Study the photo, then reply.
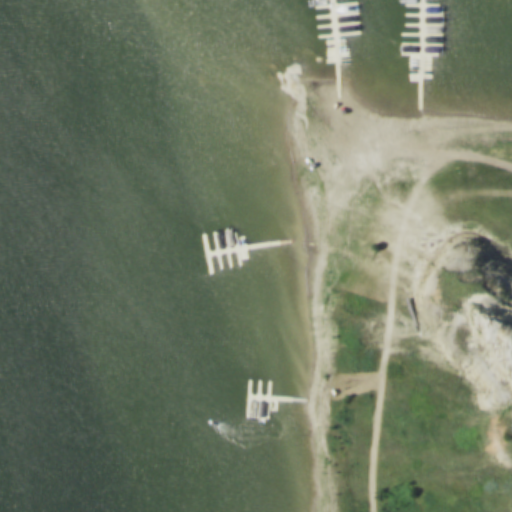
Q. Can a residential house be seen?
No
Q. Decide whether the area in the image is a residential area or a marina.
marina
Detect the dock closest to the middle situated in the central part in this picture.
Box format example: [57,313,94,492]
[202,228,293,274]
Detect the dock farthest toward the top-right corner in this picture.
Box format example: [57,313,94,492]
[400,0,445,112]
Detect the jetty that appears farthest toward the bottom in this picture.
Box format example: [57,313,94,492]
[246,379,310,424]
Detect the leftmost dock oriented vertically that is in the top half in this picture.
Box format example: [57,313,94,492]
[314,0,362,101]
